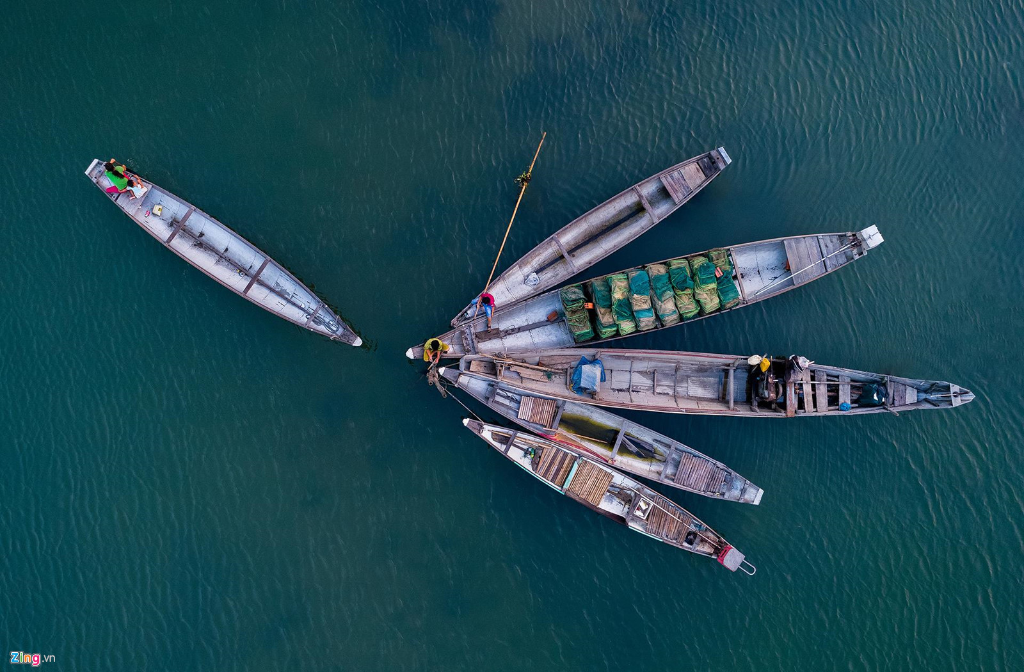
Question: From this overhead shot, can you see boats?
Yes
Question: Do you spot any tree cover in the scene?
No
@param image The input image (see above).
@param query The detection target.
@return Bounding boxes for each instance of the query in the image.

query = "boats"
[83,157,366,347]
[461,419,756,575]
[450,146,733,327]
[437,368,766,506]
[461,348,975,417]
